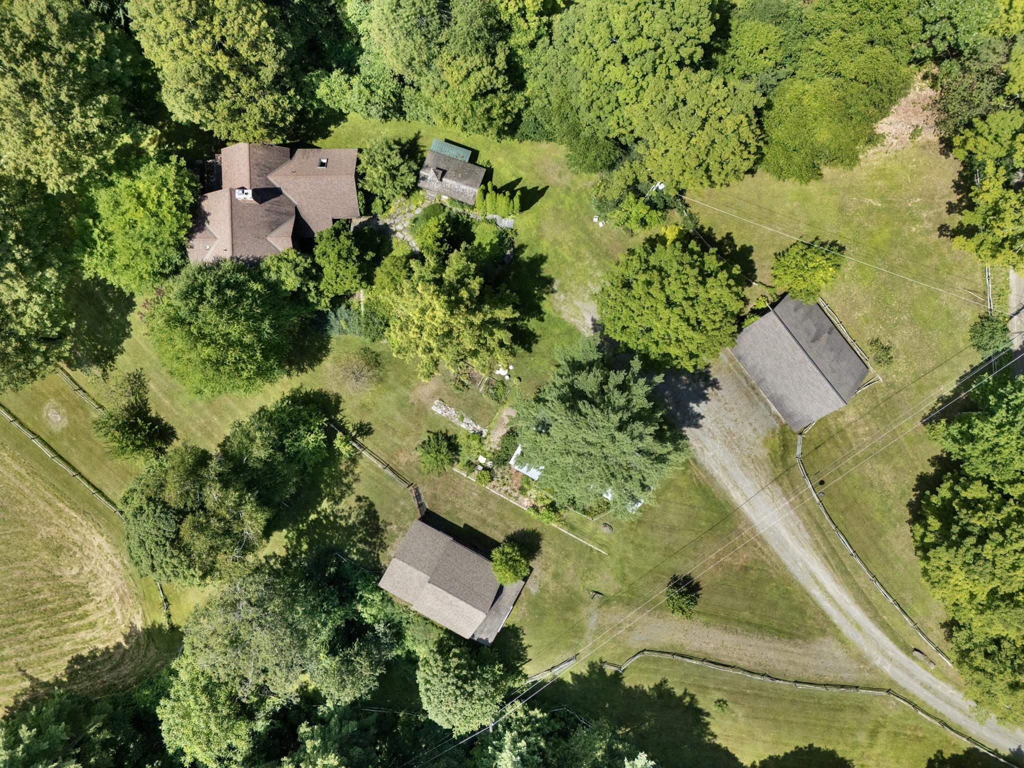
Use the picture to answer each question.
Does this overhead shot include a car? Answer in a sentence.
No, this view has no car in it.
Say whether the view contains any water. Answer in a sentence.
No, no water is visible.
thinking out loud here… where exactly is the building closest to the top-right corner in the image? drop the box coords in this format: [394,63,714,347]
[724,284,869,433]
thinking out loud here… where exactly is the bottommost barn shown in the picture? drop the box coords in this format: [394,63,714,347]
[379,518,533,644]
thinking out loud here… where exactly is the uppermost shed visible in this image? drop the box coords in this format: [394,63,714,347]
[418,140,487,207]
